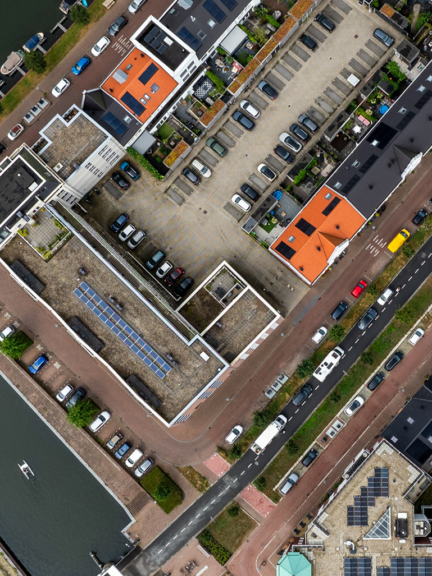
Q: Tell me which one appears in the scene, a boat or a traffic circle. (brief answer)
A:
boat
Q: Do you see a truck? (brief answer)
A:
Yes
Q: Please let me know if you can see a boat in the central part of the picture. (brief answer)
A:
No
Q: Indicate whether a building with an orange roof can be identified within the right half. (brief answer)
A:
Yes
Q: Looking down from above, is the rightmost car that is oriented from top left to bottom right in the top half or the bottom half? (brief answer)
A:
top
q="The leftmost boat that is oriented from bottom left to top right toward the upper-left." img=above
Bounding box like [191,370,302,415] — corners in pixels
[0,47,25,75]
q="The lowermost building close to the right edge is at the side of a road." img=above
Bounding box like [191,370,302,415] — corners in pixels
[278,437,432,576]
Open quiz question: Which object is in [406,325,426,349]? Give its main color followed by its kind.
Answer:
white car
